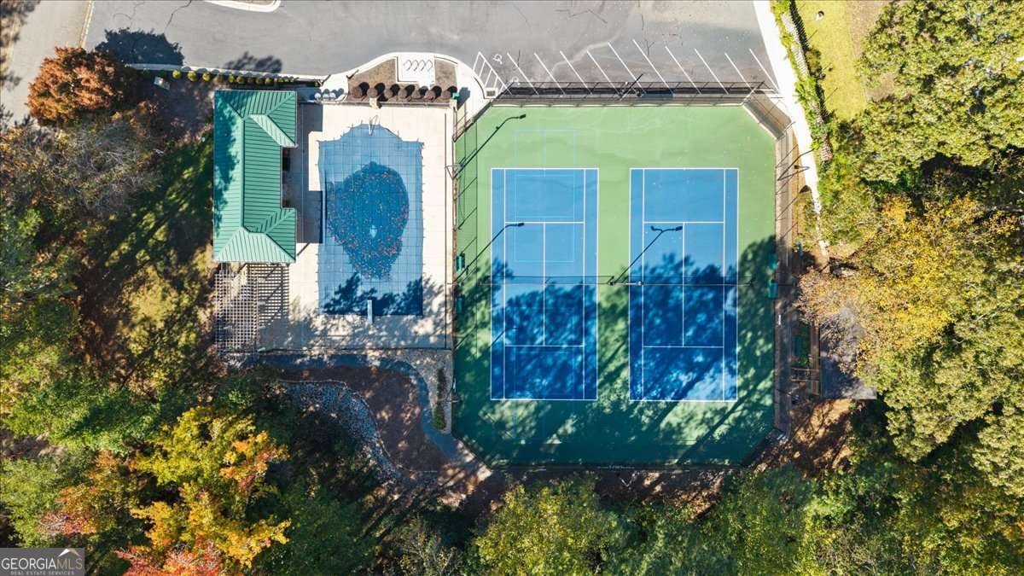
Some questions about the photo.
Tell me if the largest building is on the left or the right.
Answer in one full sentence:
You can find the largest building on the left side of the picture.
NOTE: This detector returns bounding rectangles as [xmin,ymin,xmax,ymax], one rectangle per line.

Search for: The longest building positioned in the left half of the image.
[212,90,299,262]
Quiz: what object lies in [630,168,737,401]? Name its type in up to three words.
tennis court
